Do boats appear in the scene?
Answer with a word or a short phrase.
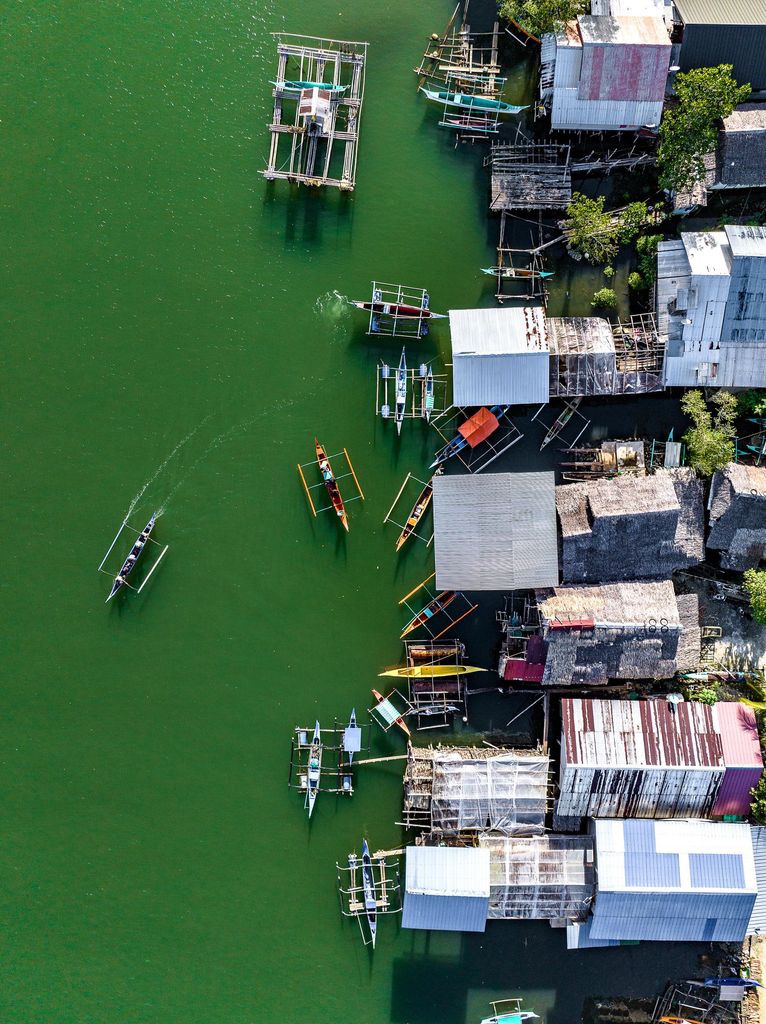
Yes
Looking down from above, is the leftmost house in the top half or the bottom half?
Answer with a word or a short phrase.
bottom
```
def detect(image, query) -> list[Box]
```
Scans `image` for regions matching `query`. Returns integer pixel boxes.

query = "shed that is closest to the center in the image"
[432,471,558,590]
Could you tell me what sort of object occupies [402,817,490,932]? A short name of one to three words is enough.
house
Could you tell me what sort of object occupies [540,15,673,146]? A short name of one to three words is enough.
house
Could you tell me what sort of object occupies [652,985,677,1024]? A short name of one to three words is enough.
boat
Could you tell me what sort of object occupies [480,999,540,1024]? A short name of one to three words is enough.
boat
